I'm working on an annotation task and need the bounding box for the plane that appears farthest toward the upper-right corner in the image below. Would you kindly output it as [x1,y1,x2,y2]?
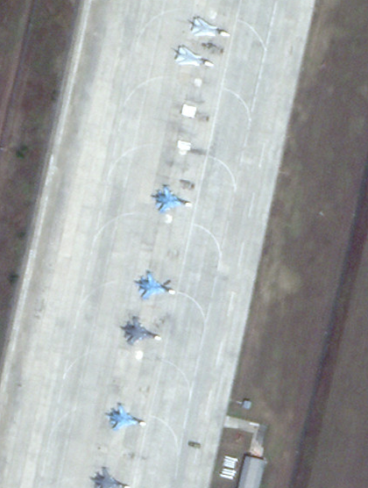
[190,19,230,38]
